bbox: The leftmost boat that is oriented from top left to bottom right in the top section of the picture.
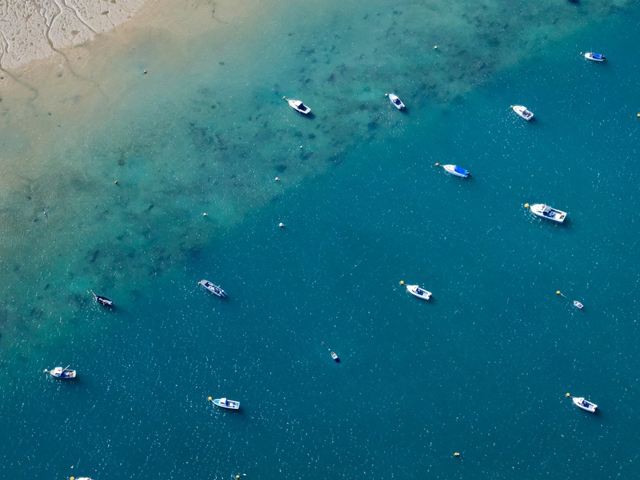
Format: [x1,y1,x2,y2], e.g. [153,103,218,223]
[288,99,312,116]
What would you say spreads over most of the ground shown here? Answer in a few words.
water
